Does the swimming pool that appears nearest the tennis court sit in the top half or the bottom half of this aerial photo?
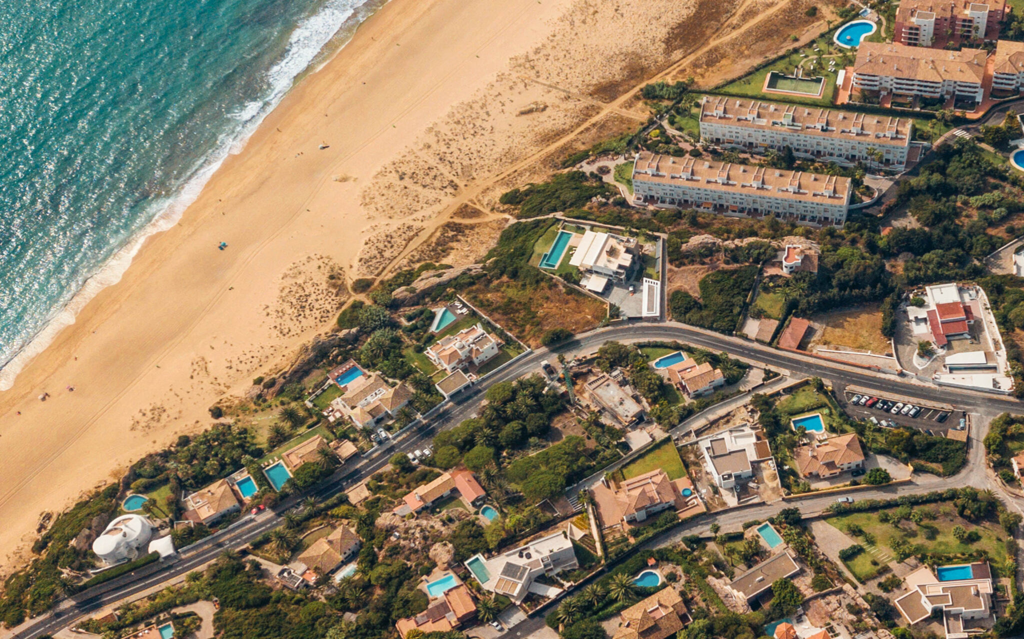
top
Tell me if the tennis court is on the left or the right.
right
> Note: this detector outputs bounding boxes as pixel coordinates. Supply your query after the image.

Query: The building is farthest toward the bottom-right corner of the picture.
[893,579,992,639]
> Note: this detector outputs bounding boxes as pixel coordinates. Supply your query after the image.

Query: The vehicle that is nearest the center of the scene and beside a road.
[539,356,558,380]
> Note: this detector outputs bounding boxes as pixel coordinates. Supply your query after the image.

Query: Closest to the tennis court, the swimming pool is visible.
[835,20,876,48]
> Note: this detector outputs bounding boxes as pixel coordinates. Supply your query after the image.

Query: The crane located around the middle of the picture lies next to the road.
[541,319,604,411]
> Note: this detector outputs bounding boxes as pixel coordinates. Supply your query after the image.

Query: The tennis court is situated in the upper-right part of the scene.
[767,71,822,92]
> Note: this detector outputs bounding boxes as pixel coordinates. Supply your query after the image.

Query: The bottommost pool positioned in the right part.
[756,618,792,639]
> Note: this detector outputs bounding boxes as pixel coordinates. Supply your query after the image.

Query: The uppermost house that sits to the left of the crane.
[424,323,504,374]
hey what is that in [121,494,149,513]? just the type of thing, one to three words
swimming pool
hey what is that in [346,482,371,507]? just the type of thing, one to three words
shed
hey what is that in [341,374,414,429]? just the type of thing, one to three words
house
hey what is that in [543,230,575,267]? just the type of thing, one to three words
swimming pool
